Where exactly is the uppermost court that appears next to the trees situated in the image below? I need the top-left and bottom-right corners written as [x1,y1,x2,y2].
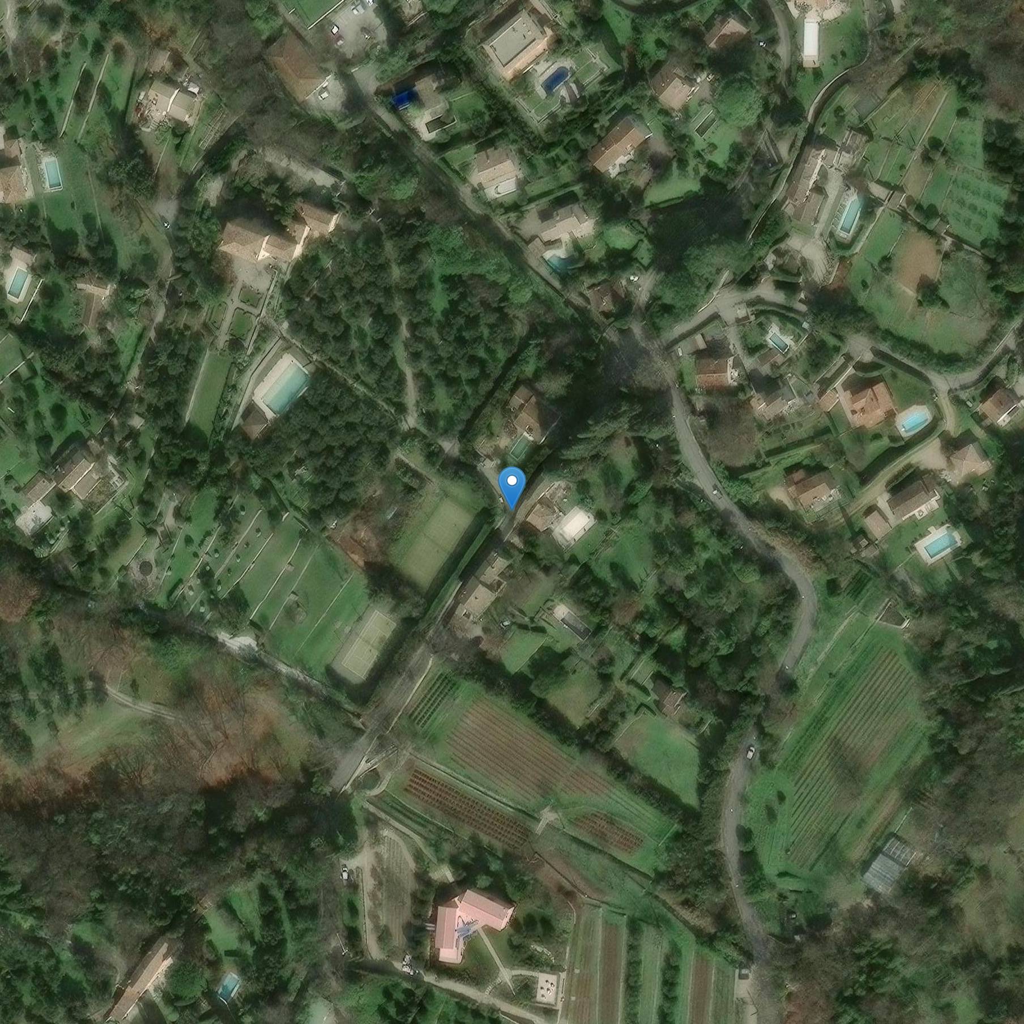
[394,489,478,592]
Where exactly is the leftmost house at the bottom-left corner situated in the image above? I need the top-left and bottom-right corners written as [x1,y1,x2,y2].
[105,940,173,1024]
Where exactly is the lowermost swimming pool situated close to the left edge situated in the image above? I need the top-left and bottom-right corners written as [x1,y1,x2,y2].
[3,260,35,302]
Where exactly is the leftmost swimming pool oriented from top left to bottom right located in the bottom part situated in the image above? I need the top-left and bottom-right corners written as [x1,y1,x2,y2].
[553,604,594,640]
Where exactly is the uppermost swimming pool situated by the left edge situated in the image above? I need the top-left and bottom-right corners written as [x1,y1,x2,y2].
[36,145,63,191]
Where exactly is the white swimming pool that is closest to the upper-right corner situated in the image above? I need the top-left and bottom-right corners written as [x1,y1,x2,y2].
[803,17,820,67]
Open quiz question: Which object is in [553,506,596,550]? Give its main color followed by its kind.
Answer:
white swimming pool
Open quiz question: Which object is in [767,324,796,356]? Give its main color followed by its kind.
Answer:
white swimming pool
